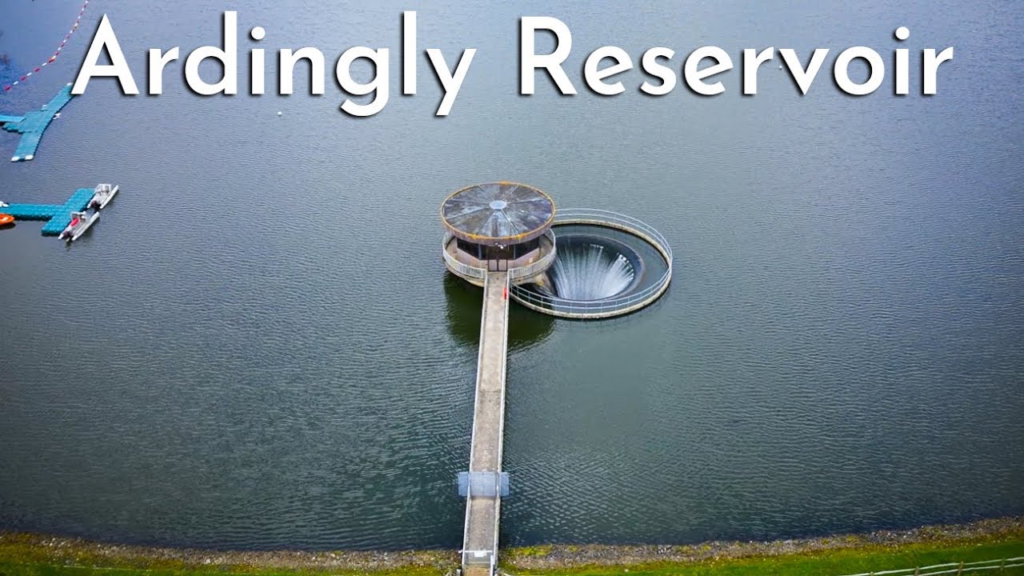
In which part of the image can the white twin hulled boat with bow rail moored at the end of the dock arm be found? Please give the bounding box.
[84,179,119,212]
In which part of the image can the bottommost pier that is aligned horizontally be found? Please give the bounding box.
[0,188,97,237]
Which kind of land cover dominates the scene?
water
